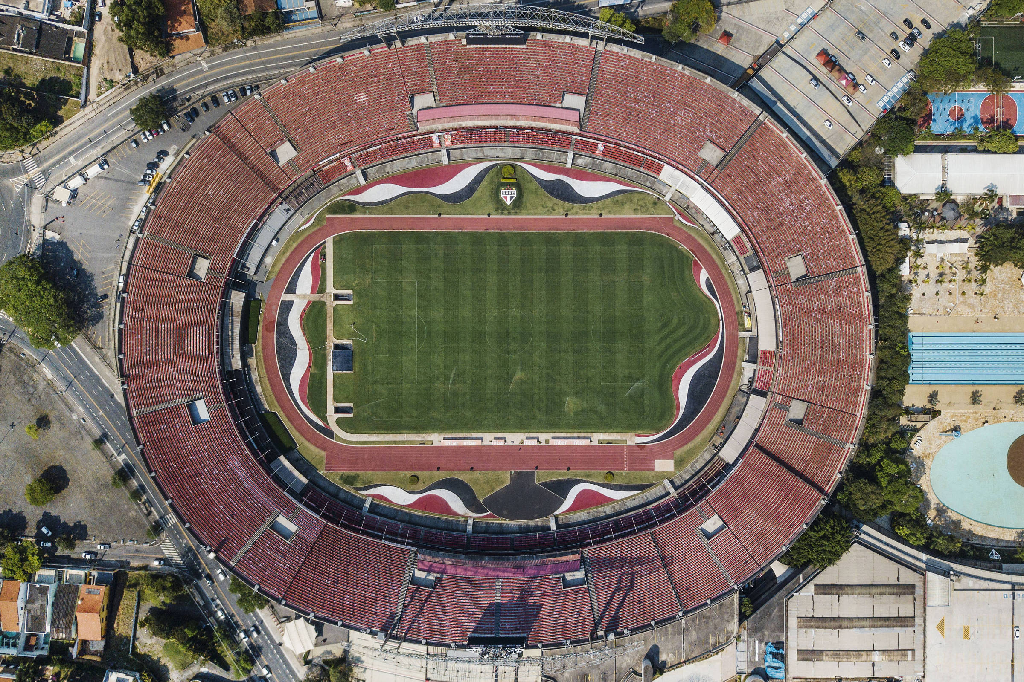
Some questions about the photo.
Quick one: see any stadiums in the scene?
Yes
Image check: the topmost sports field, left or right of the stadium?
on the right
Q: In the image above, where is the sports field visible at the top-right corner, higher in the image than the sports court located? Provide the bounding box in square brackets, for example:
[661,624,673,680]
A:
[974,22,1024,79]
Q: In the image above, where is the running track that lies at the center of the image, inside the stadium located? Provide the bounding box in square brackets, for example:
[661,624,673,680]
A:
[262,214,739,471]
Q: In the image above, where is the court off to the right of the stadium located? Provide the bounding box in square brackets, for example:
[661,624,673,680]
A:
[914,90,1024,136]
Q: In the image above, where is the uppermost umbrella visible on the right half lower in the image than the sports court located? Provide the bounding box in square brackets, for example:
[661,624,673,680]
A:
[942,201,959,218]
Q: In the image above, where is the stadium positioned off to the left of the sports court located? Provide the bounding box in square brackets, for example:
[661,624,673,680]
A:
[119,26,881,655]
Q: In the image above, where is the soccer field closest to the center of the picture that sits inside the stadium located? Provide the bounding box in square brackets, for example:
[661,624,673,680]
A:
[303,231,719,444]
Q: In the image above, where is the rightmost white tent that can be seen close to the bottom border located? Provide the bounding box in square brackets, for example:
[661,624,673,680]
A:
[282,618,320,652]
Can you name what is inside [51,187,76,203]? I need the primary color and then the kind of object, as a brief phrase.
white vehicle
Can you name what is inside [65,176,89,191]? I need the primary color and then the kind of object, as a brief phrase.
white vehicle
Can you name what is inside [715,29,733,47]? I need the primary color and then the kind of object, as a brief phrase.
red gazebo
